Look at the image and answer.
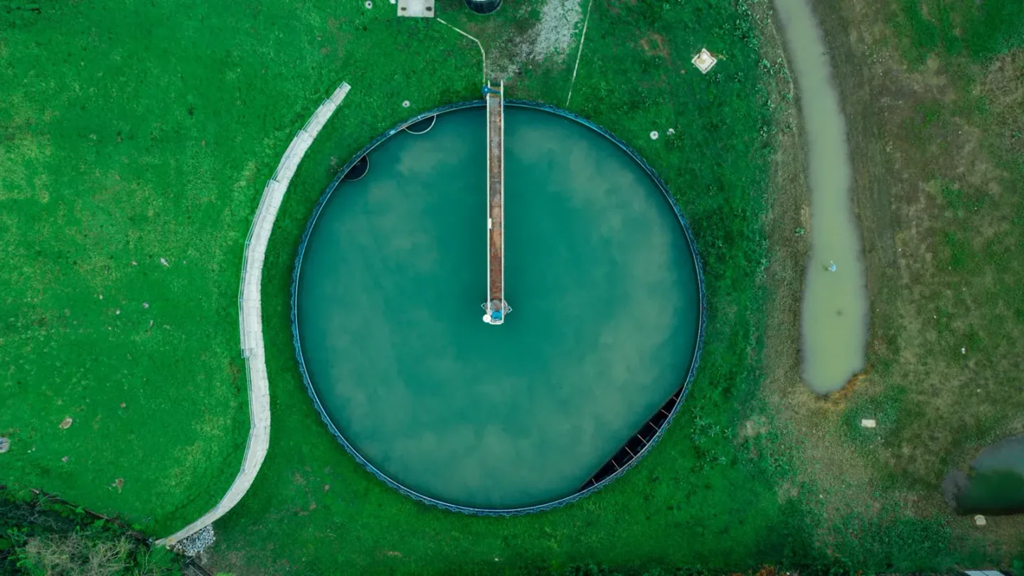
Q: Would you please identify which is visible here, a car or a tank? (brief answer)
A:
tank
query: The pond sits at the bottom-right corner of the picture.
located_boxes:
[942,433,1024,515]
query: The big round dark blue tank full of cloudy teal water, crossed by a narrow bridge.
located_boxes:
[292,101,705,515]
